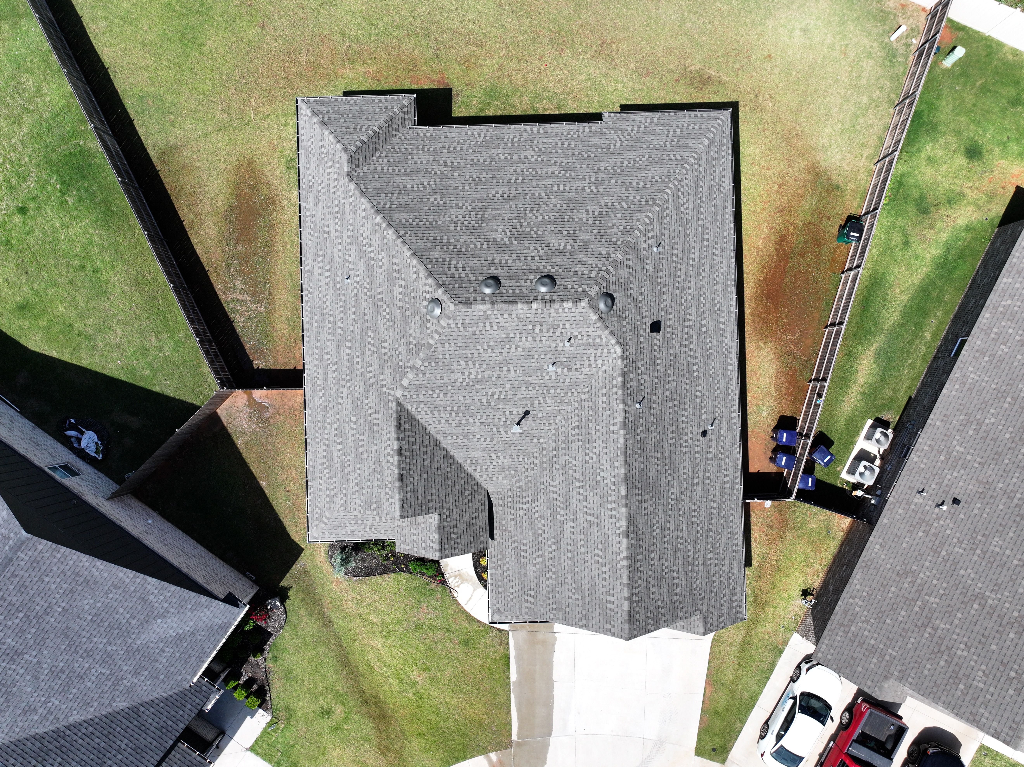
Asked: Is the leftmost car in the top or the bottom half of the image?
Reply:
bottom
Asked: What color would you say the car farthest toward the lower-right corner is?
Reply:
black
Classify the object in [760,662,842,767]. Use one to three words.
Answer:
car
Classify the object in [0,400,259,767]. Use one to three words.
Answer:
house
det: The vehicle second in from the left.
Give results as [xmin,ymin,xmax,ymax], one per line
[815,696,906,767]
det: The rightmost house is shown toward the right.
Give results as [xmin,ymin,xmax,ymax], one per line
[795,219,1024,757]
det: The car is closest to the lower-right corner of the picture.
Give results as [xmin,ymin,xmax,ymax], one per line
[905,739,963,767]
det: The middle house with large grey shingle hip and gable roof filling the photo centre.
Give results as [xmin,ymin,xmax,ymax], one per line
[296,94,747,636]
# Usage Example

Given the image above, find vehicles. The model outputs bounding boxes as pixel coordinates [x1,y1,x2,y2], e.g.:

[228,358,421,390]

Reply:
[905,739,963,767]
[815,696,906,767]
[760,662,842,767]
